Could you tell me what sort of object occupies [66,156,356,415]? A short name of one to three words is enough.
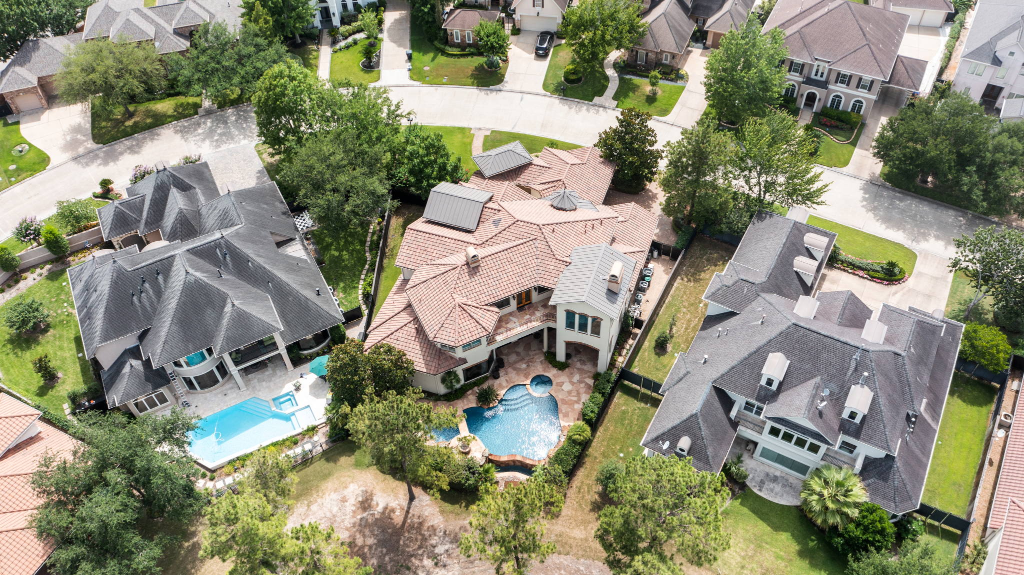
house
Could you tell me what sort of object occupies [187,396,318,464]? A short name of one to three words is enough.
swimming pool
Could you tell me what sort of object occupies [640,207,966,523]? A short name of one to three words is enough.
house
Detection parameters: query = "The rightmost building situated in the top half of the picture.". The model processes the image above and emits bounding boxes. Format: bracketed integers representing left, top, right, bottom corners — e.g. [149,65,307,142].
[953,0,1024,137]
